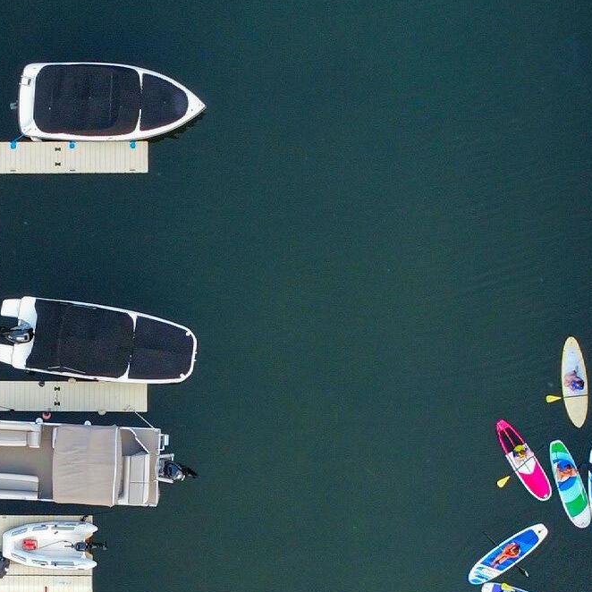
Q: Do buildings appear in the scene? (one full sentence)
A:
No, there's no building here.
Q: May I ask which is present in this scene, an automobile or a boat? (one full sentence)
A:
Of the two, only a boat appears.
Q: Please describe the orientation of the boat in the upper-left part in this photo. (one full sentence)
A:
I'd say the boat in the upper-left part is aligned horizontally in the picture.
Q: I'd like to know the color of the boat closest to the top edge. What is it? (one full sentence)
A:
In this view, the boat closest to the top edge is black.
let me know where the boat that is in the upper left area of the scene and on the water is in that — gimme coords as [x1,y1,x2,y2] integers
[9,62,205,143]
